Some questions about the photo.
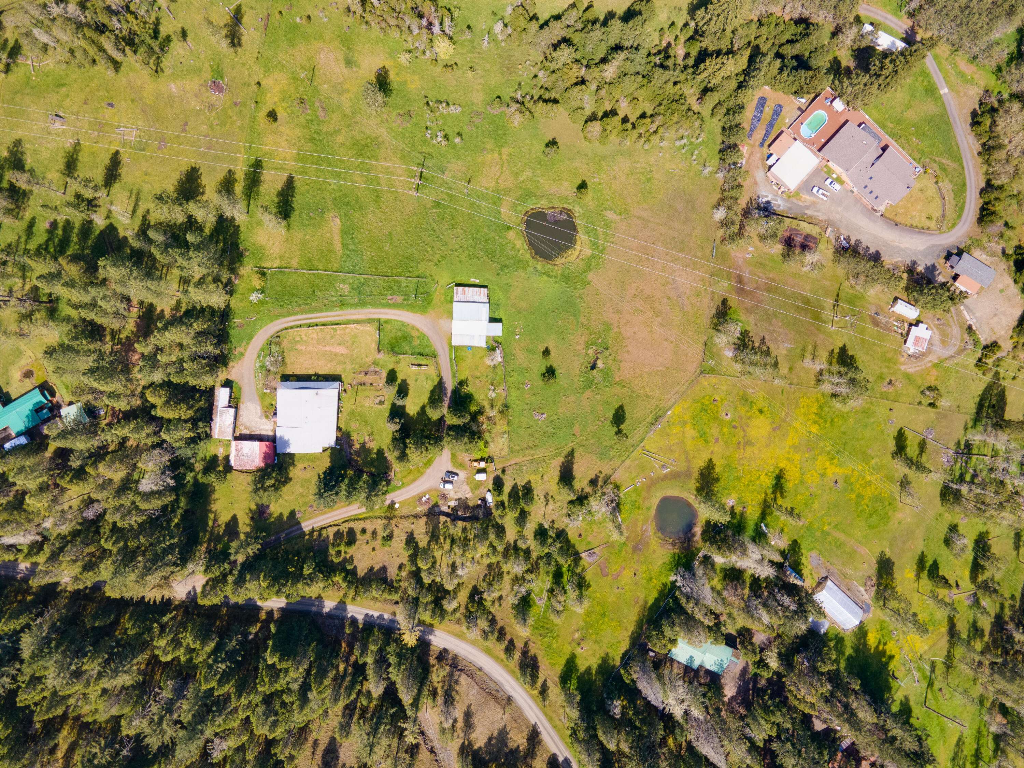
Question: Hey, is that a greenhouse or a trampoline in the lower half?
greenhouse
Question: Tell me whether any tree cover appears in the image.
Yes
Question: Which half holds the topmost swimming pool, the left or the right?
right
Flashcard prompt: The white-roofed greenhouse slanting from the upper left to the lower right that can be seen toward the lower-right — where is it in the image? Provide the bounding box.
[811,577,863,629]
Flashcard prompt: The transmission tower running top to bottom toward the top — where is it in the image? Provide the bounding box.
[407,166,423,203]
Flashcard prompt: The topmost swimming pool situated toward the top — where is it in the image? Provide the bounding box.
[800,110,828,139]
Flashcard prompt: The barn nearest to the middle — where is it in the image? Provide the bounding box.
[452,287,502,346]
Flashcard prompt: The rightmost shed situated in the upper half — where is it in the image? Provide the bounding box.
[944,252,996,294]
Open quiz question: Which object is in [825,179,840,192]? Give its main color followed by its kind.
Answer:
white vehicle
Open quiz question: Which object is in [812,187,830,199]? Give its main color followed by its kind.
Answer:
white vehicle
